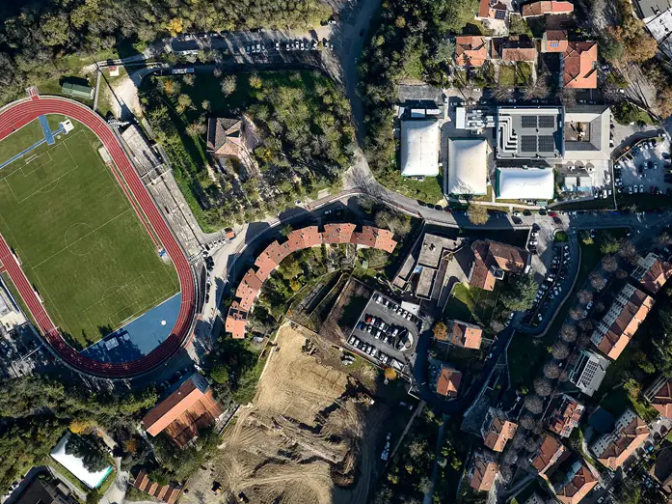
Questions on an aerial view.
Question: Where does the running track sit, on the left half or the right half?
left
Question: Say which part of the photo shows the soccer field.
left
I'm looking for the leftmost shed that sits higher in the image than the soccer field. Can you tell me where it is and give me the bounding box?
[61,82,96,99]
